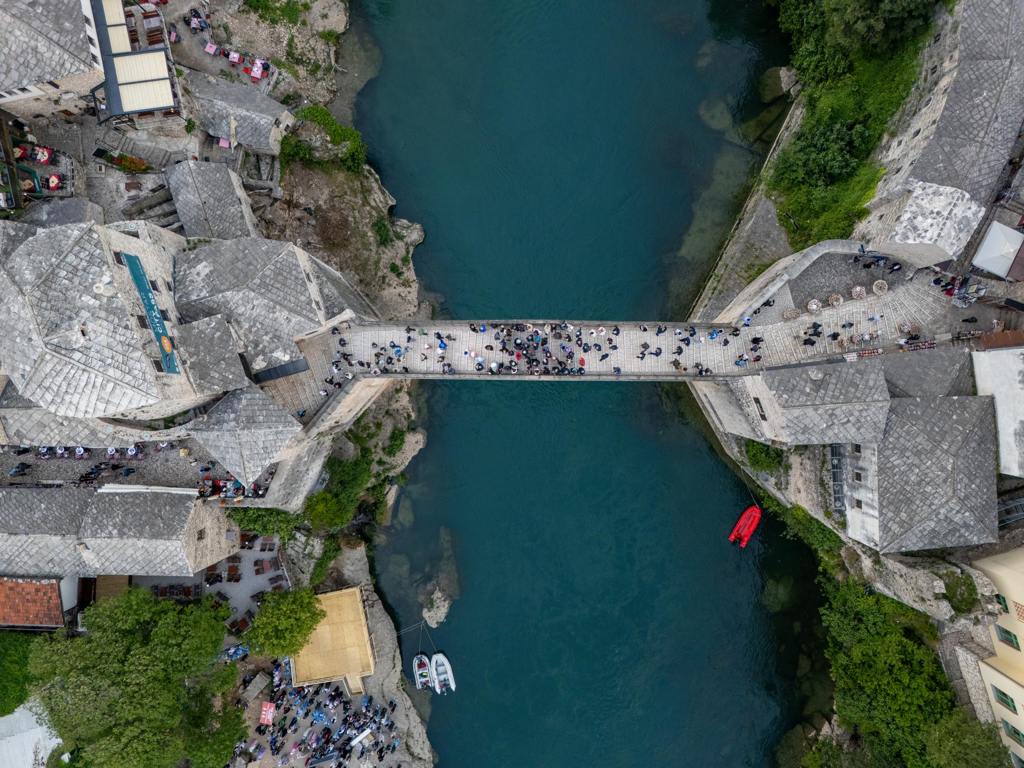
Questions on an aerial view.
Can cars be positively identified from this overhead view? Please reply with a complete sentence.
No, I can't see a single car in this photo.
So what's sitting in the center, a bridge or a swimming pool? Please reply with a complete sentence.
The one visible in the center is a bridge.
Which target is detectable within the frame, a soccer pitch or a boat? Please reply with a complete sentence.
The image shows a boat.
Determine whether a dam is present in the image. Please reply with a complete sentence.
No, I can't see a single dam in this photo.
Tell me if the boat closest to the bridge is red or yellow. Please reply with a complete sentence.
The color of the boat closest to the bridge is red.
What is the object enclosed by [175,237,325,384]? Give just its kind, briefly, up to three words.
house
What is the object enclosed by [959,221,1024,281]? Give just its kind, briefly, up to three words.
tent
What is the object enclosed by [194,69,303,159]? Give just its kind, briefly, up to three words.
house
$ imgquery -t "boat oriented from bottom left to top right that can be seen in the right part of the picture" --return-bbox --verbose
[727,507,760,551]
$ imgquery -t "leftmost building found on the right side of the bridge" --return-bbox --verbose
[745,351,891,446]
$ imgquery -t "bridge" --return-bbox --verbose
[346,319,749,382]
